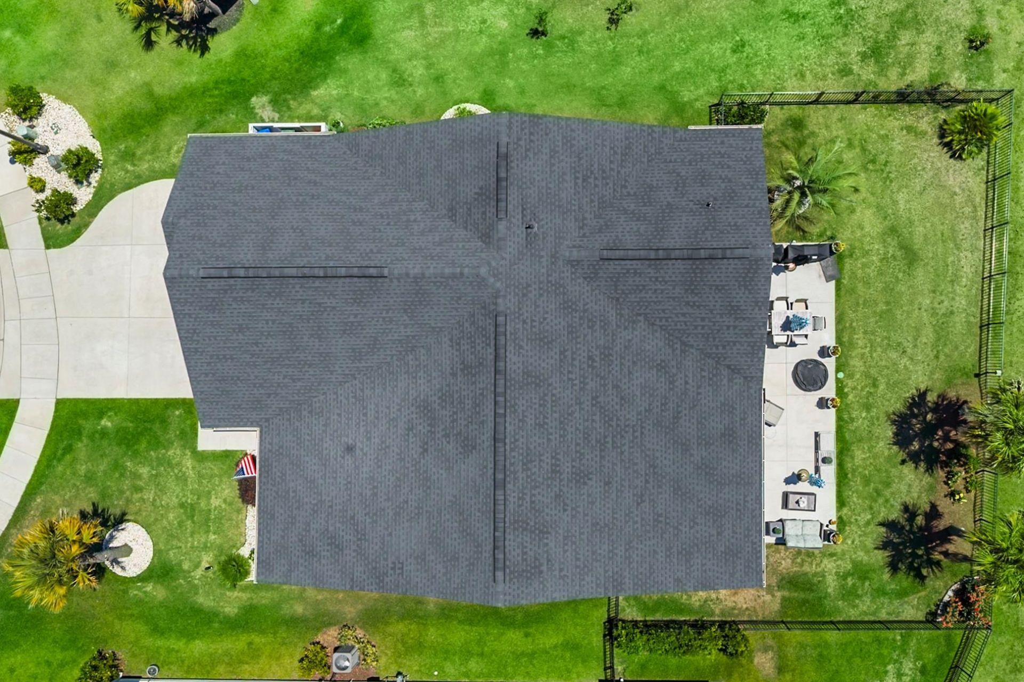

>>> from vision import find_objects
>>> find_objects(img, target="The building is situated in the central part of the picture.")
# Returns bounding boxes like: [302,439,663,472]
[163,112,772,607]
